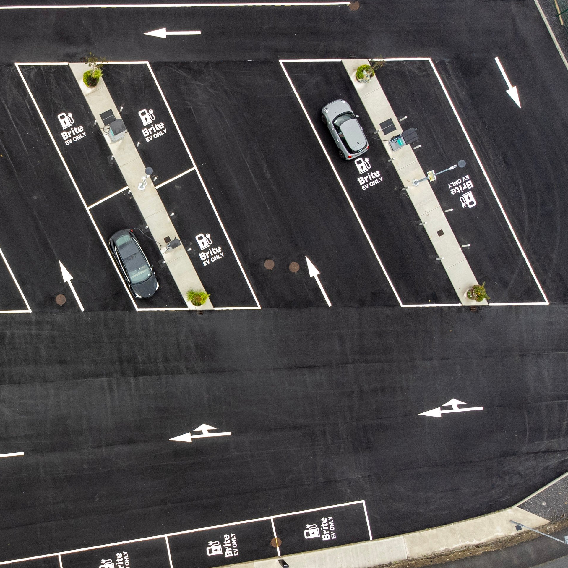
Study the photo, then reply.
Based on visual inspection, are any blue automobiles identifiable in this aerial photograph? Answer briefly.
No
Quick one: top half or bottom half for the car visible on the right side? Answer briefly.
top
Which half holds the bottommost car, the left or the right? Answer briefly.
left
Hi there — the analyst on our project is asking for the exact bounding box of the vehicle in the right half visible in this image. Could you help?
[321,98,371,160]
